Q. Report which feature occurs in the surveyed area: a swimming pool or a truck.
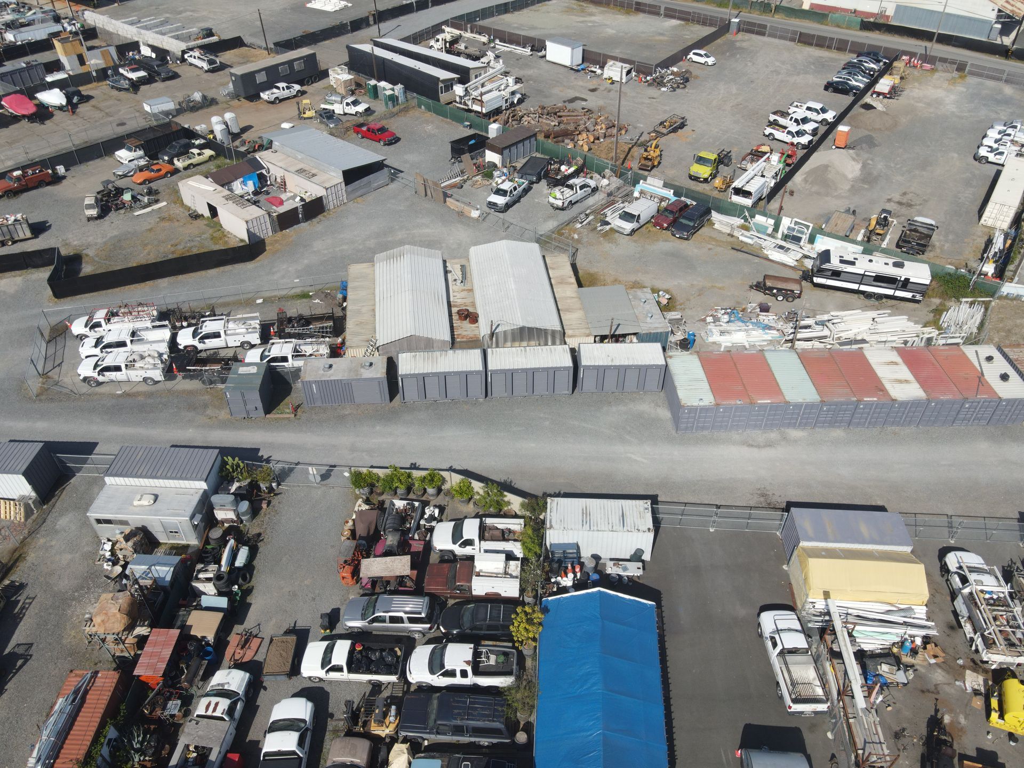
truck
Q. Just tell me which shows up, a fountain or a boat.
boat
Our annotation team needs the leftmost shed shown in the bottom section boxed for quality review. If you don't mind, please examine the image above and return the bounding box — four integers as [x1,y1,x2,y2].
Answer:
[0,446,60,508]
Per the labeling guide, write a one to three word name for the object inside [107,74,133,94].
boat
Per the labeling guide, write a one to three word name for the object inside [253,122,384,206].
shed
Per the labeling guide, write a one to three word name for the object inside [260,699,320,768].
truck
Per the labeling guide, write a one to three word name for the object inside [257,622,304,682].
trailer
